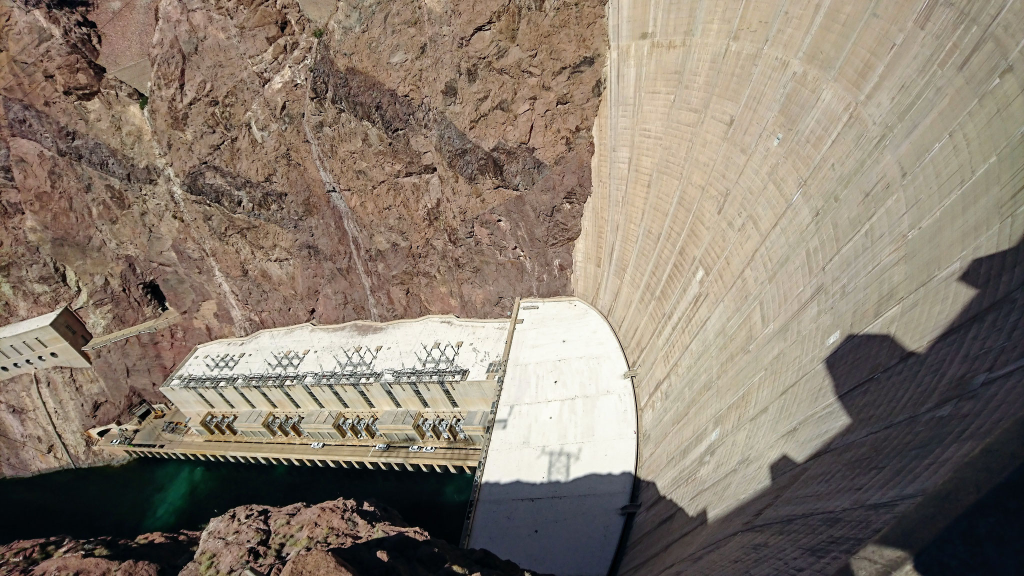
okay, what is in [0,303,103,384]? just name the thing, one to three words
building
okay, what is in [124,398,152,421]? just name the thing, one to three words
shed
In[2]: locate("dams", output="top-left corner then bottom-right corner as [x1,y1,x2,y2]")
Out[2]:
[487,0,1024,576]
